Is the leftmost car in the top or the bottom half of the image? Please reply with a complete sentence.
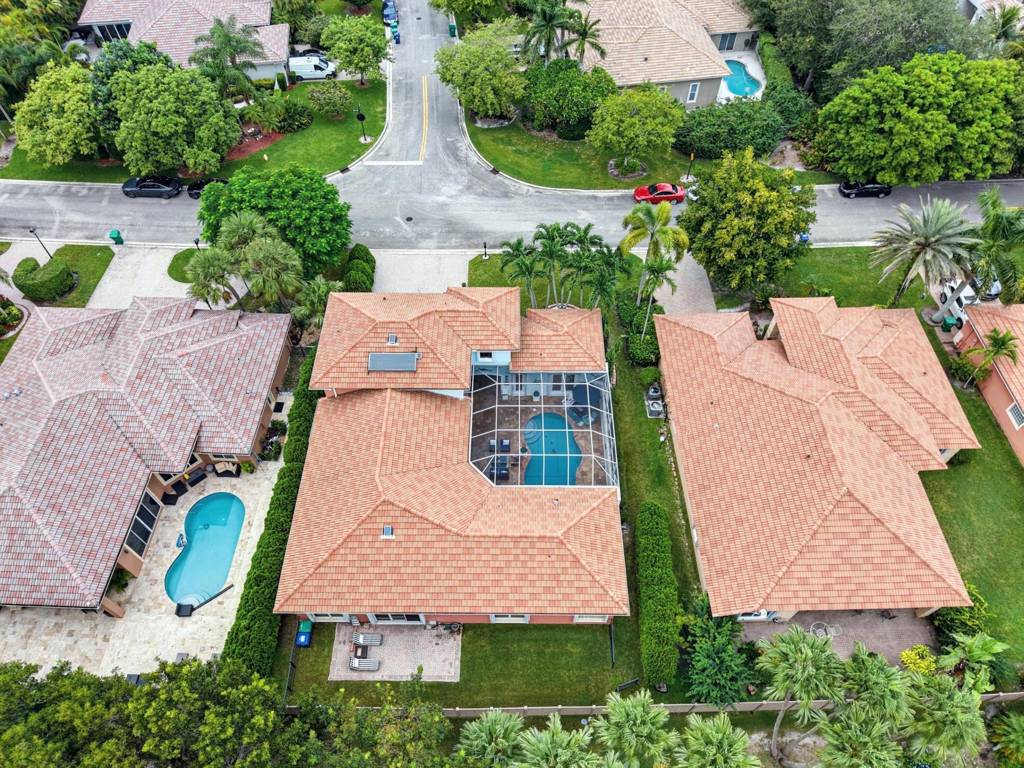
Seen from above, the leftmost car lies in the top half of the view.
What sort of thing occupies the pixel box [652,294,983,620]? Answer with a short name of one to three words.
house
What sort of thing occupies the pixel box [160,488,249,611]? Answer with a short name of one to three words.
swimming pool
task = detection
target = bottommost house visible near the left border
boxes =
[0,294,292,619]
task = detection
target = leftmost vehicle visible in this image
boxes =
[120,175,177,198]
